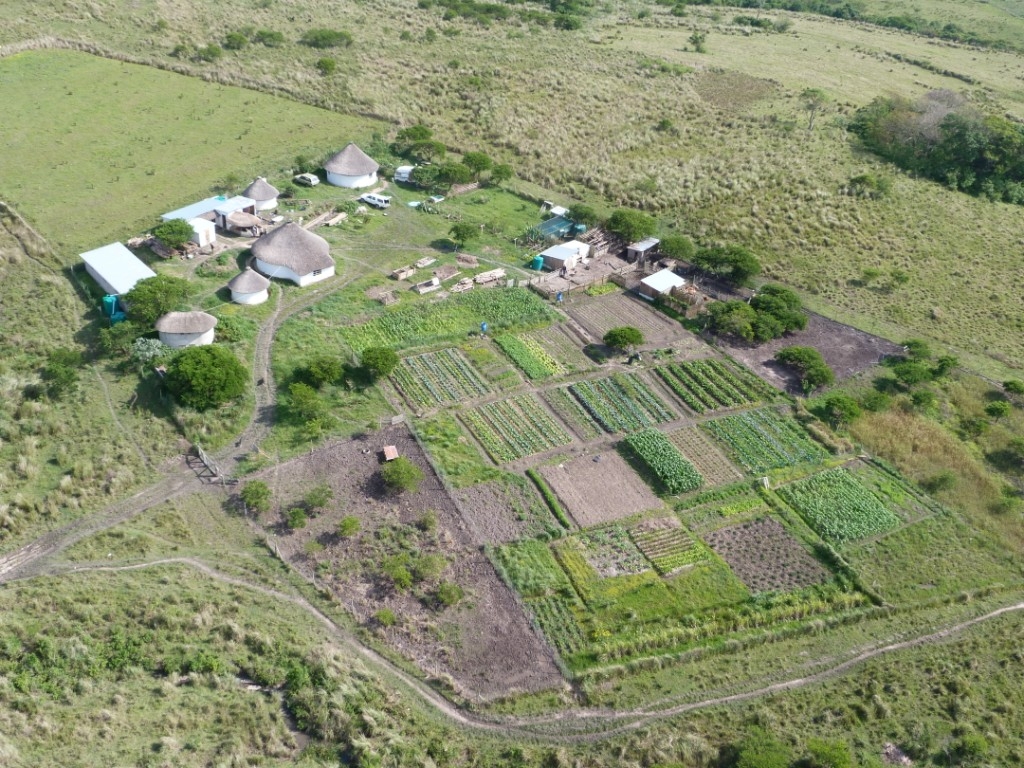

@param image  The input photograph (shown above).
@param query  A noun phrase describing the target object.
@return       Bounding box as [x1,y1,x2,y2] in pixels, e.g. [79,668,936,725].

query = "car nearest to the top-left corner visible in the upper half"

[292,172,320,187]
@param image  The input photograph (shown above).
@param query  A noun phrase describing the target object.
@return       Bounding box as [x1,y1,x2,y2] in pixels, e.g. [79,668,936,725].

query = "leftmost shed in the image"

[79,241,159,310]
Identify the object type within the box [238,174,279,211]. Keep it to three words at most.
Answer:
shed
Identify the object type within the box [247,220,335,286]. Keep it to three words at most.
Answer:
house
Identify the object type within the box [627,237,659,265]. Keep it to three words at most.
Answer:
shed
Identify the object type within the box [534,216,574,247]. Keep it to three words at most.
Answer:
house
